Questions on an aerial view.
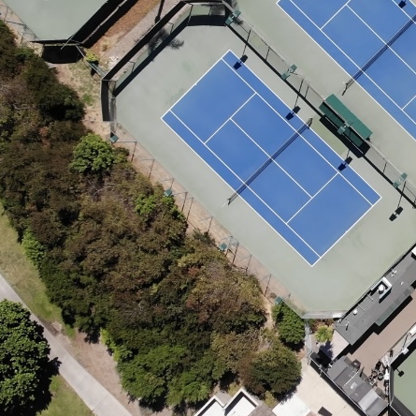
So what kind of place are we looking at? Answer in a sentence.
The picture captures a sports ground.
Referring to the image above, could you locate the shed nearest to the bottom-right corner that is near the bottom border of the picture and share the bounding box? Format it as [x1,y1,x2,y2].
[358,384,389,416]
